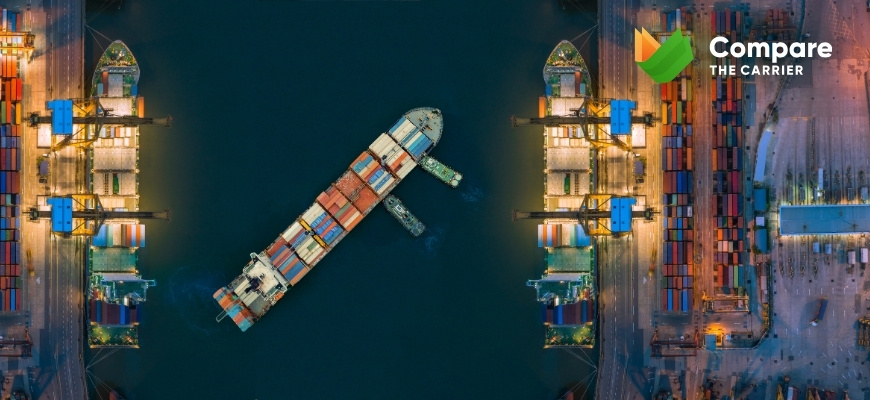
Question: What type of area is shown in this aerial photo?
port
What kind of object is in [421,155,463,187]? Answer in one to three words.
boat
